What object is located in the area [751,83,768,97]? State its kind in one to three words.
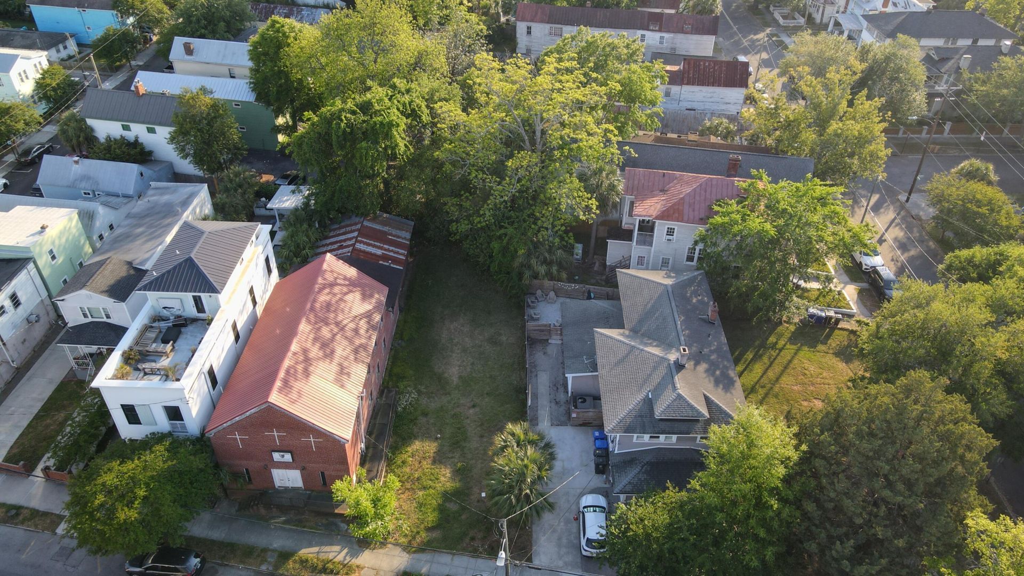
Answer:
car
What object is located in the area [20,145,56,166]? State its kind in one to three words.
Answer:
car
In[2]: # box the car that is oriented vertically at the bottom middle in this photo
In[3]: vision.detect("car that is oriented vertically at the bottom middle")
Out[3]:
[575,498,609,561]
